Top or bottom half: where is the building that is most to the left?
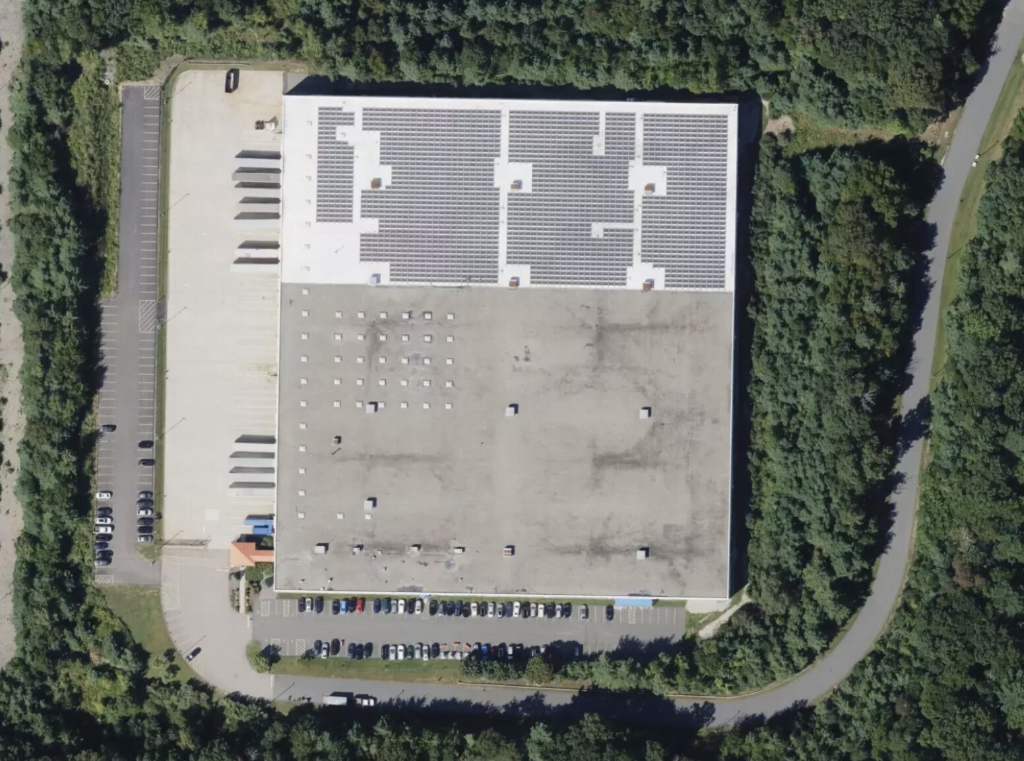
bottom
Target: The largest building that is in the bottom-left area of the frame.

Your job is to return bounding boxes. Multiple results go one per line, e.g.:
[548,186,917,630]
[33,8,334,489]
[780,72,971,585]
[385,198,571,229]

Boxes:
[229,542,274,568]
